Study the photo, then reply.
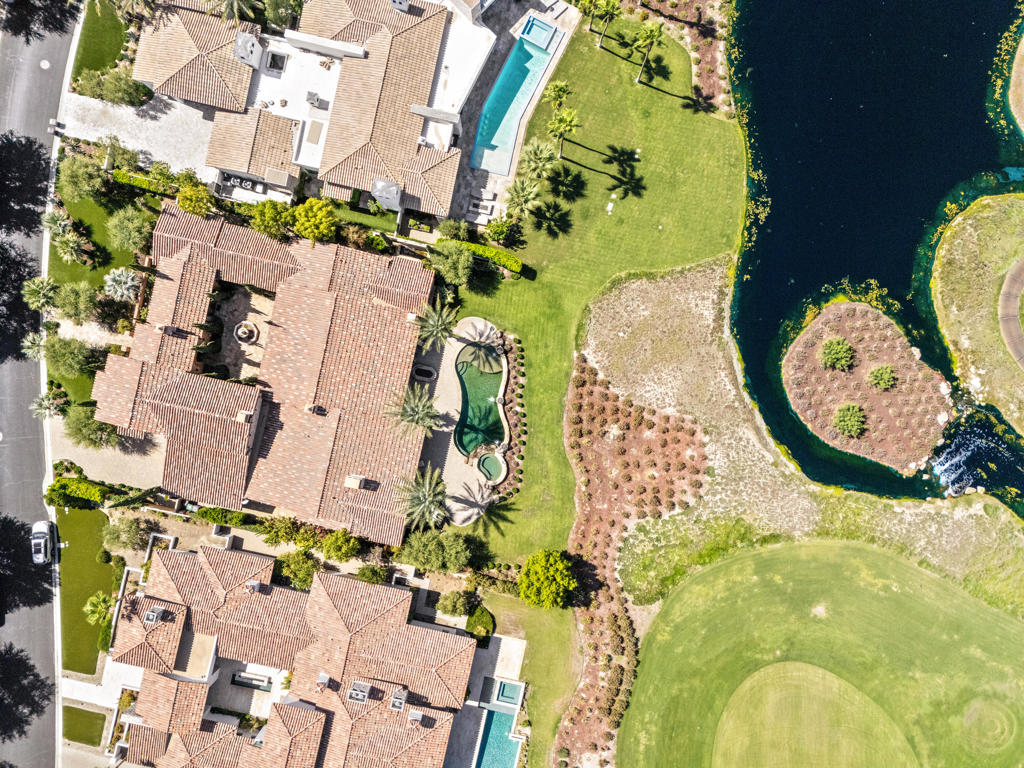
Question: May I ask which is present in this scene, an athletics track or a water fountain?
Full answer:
I can see a water fountain in this picture.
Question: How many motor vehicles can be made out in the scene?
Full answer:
I count just 1 motor vehicle.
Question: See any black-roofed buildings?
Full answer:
No, no black-roofed building is visible in the scene.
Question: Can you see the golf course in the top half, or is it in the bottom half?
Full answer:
The golf course sits in the bottom half of the picture.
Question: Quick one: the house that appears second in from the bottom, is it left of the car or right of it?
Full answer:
In the image, the house that appears second in from the bottom sits on the right side of the car.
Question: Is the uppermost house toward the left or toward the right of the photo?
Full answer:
The uppermost house is on the left side of the image.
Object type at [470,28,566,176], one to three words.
swimming pool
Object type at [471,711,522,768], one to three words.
swimming pool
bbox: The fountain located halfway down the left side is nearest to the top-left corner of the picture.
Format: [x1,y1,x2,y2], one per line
[233,319,261,346]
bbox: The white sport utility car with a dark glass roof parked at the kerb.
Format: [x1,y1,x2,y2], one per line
[28,520,55,565]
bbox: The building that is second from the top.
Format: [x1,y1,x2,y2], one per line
[91,205,436,547]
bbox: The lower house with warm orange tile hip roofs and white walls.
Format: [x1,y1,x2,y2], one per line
[112,543,476,768]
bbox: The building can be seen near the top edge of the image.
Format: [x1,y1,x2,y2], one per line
[133,0,508,218]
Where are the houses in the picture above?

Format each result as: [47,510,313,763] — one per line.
[133,0,508,218]
[91,205,436,547]
[112,543,476,768]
